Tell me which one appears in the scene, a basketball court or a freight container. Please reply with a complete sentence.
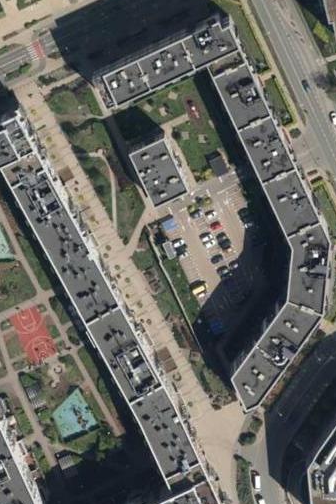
Of the two, only a basketball court appears.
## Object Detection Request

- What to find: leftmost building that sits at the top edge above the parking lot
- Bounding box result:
[103,12,245,105]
